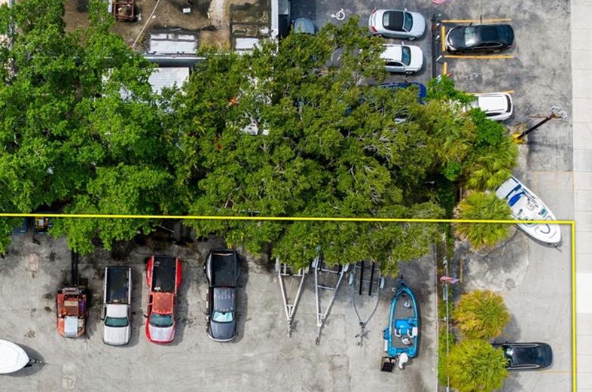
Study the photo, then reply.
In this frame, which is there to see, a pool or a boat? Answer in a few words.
boat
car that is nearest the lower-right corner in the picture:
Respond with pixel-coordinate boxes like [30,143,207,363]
[490,339,554,372]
